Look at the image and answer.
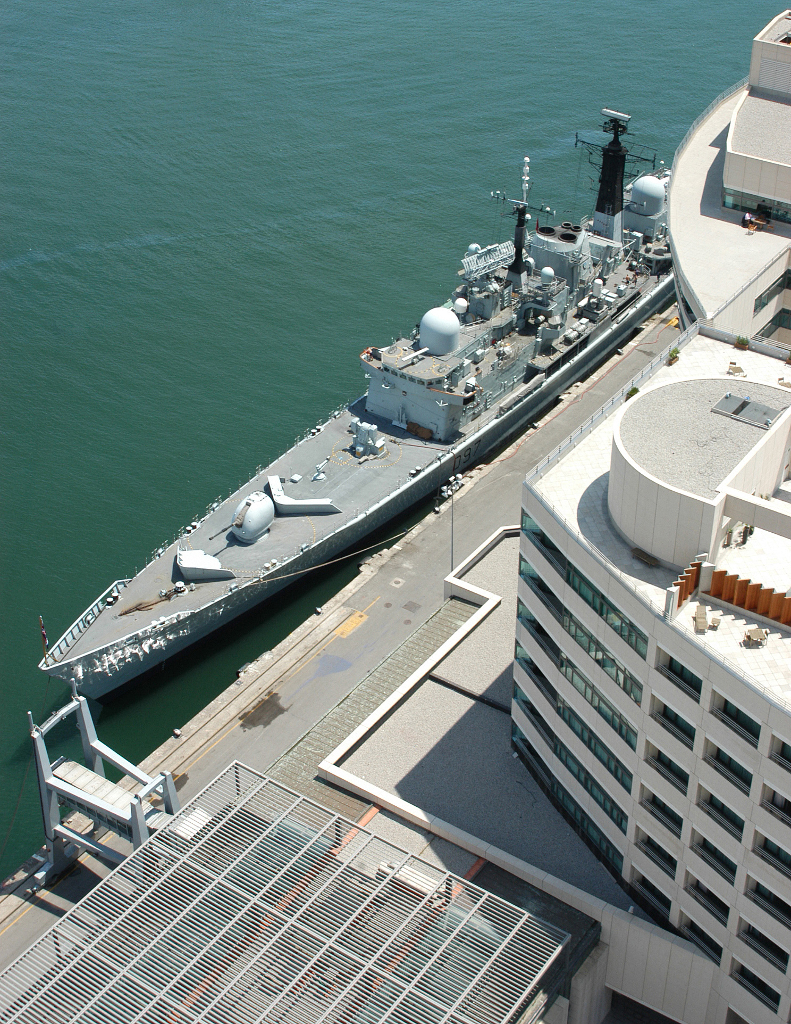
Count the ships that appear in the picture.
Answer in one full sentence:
In total, 1 ship can be seen.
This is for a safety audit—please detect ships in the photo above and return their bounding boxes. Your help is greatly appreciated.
[35,107,673,706]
